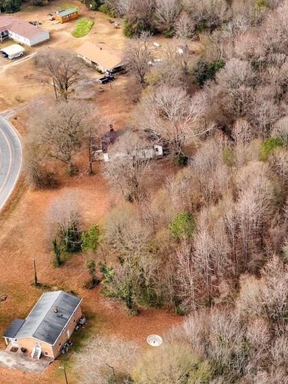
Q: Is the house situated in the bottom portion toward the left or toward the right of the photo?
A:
left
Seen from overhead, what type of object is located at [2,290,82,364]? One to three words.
house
